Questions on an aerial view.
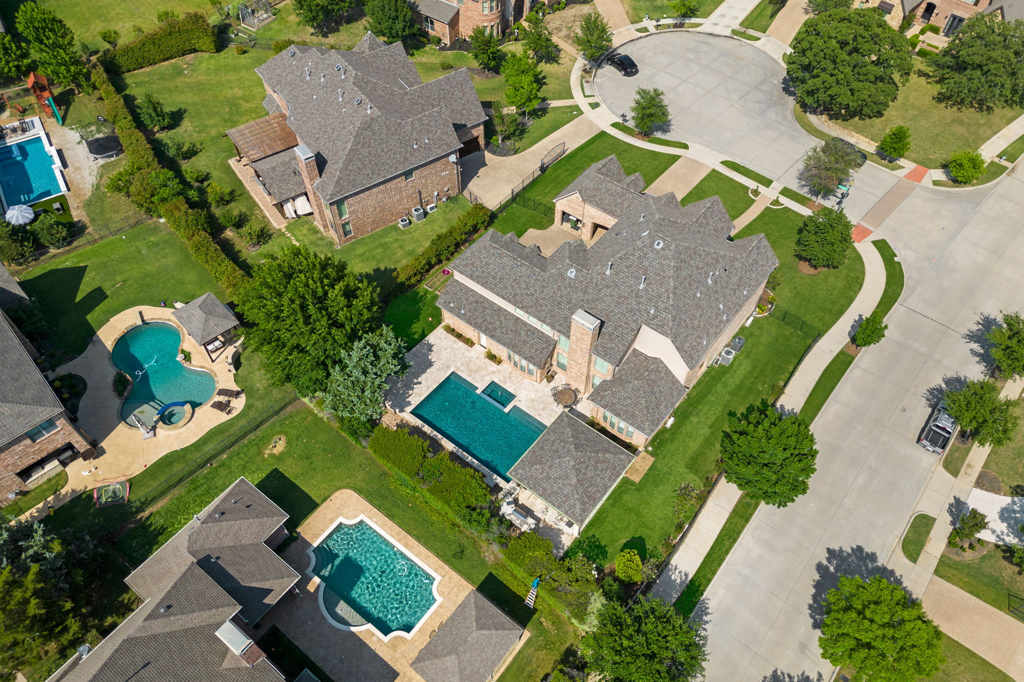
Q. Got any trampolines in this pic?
Yes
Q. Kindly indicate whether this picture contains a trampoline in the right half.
No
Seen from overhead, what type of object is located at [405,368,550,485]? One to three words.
swimming pool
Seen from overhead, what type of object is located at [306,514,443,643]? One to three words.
swimming pool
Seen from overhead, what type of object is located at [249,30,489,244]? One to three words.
house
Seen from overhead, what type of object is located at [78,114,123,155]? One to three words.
trampoline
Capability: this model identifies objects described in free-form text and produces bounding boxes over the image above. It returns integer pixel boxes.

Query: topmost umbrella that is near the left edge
[3,205,38,232]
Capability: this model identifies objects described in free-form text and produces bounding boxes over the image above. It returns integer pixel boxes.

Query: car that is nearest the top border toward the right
[610,54,638,72]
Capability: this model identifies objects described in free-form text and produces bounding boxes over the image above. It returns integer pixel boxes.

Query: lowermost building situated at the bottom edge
[408,588,530,682]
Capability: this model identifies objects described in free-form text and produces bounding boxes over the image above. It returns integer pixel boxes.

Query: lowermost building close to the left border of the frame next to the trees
[44,476,302,682]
